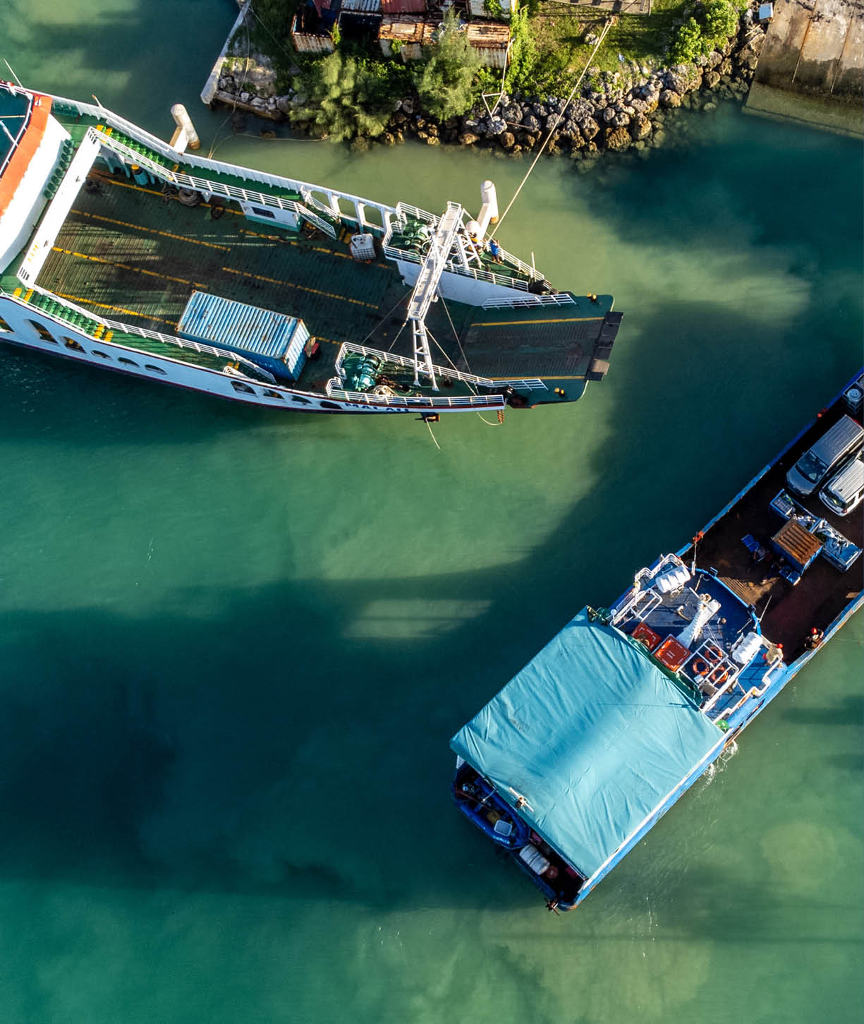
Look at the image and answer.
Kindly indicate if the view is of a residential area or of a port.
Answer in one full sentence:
What you see here is a port.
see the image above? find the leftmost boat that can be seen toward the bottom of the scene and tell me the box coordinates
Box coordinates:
[450,766,524,847]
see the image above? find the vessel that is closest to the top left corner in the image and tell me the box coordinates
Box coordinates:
[0,40,622,449]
